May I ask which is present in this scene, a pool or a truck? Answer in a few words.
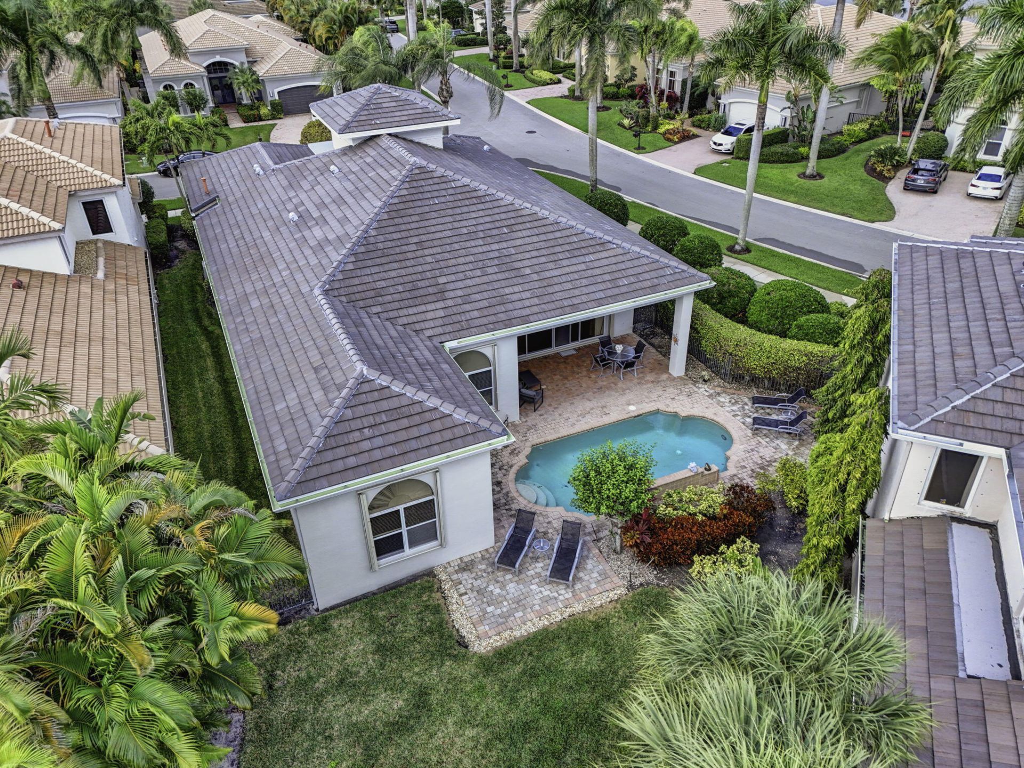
pool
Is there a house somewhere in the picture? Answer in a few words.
Yes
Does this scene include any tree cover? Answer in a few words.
Yes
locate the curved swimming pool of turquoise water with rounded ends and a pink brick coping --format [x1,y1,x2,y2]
[504,403,743,521]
